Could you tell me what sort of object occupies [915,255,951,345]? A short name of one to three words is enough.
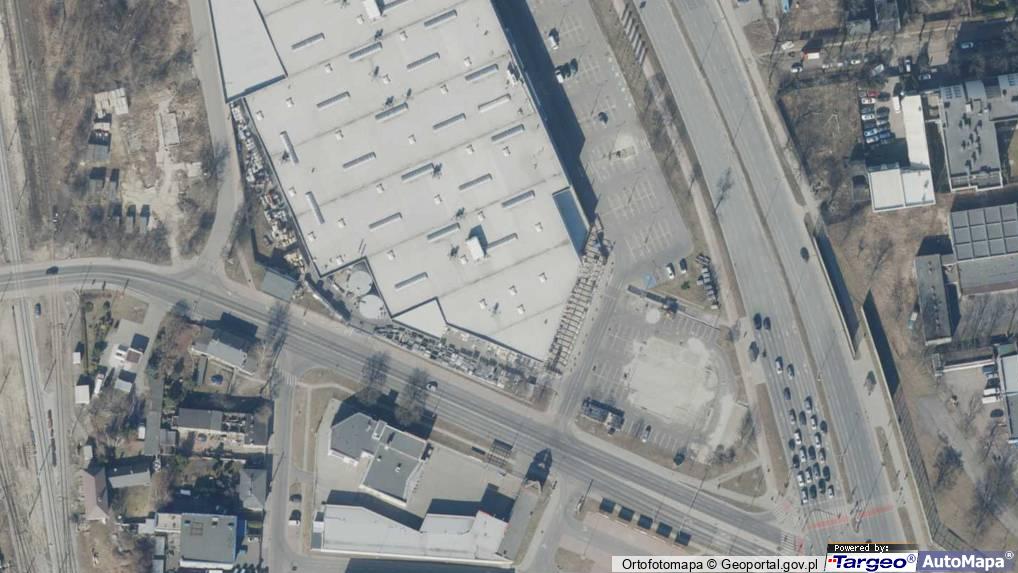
building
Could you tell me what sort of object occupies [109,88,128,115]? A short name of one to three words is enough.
shed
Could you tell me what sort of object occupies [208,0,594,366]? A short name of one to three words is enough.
building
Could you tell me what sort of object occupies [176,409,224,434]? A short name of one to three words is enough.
house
